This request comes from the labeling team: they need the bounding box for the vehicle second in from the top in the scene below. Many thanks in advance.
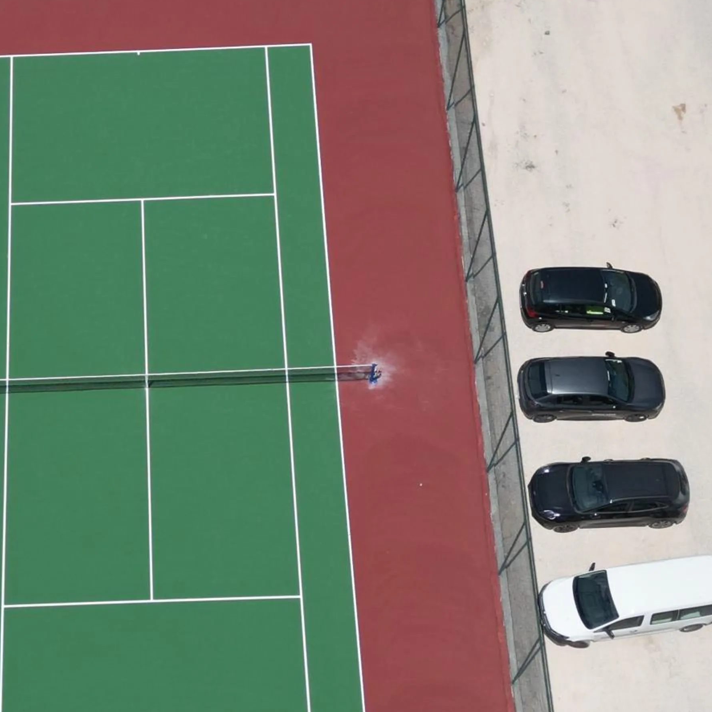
[518,348,665,421]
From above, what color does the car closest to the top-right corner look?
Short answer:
black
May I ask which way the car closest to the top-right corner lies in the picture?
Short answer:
from left to right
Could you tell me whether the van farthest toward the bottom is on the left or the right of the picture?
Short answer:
right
